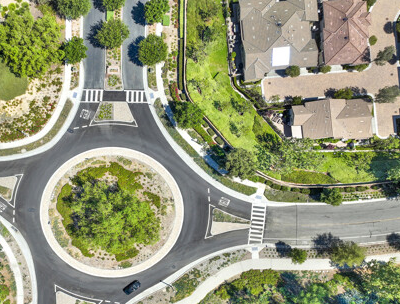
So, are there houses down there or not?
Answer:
Yes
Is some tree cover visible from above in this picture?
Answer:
Yes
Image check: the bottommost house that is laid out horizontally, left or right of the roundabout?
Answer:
on its right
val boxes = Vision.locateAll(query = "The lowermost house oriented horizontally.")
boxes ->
[290,99,373,139]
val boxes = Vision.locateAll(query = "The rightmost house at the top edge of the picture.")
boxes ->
[319,0,371,66]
